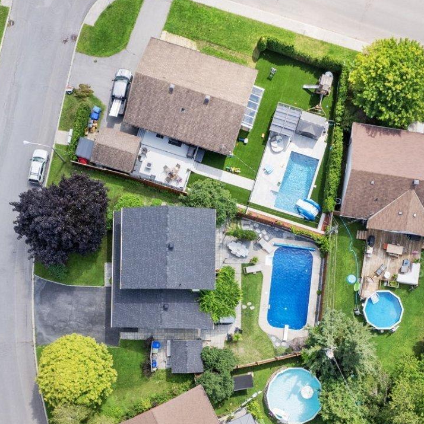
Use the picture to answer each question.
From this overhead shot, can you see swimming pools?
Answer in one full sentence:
Yes, there's a swimming pool down there.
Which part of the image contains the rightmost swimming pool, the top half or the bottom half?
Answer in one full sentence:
Seen from above, the rightmost swimming pool lies in the bottom half of the view.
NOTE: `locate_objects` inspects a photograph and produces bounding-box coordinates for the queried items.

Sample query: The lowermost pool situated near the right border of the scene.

[362,290,403,331]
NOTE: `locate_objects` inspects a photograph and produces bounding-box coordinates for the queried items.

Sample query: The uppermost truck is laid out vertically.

[108,70,131,117]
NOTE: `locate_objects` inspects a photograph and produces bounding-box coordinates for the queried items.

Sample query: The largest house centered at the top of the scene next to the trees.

[124,38,258,155]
